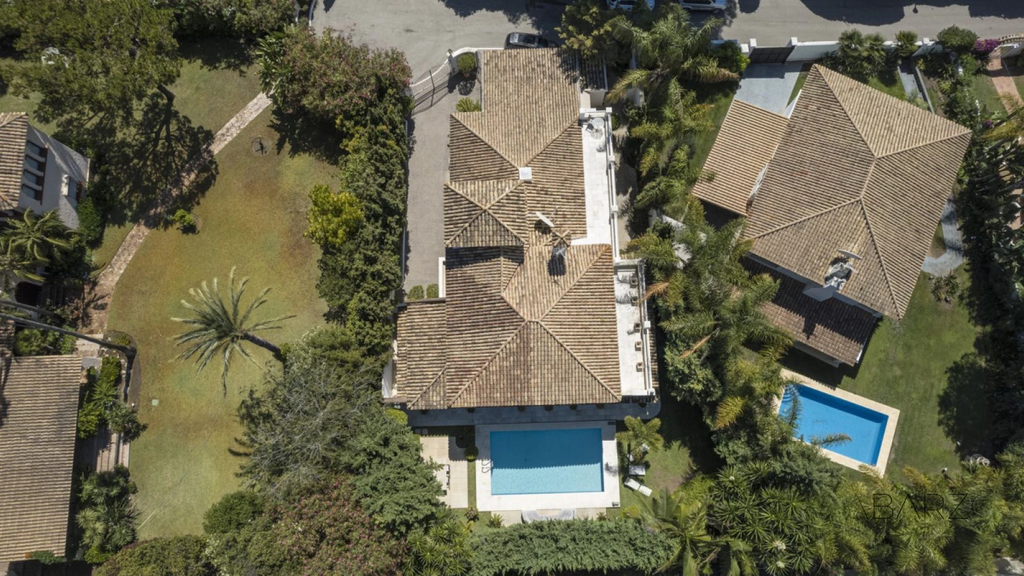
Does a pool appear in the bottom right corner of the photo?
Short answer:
Yes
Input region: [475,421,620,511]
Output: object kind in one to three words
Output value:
swimming pool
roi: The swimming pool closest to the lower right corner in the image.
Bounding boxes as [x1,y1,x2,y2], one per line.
[765,369,899,476]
